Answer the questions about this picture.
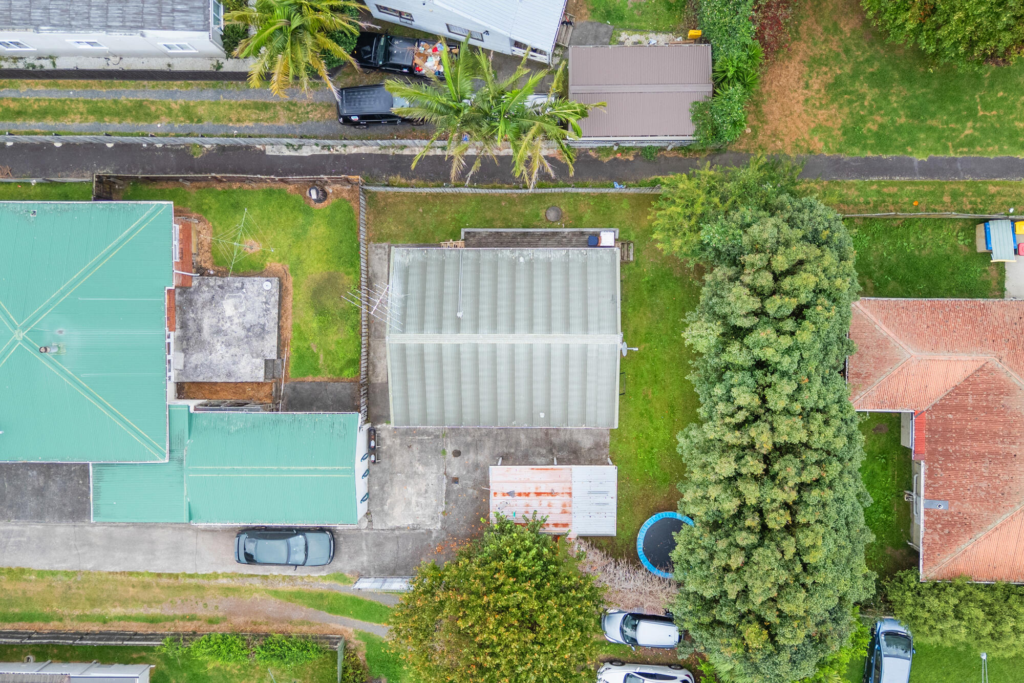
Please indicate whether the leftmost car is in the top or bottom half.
bottom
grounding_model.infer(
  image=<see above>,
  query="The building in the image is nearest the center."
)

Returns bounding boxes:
[388,245,623,430]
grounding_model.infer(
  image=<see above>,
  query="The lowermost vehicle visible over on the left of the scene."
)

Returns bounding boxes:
[233,526,338,572]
